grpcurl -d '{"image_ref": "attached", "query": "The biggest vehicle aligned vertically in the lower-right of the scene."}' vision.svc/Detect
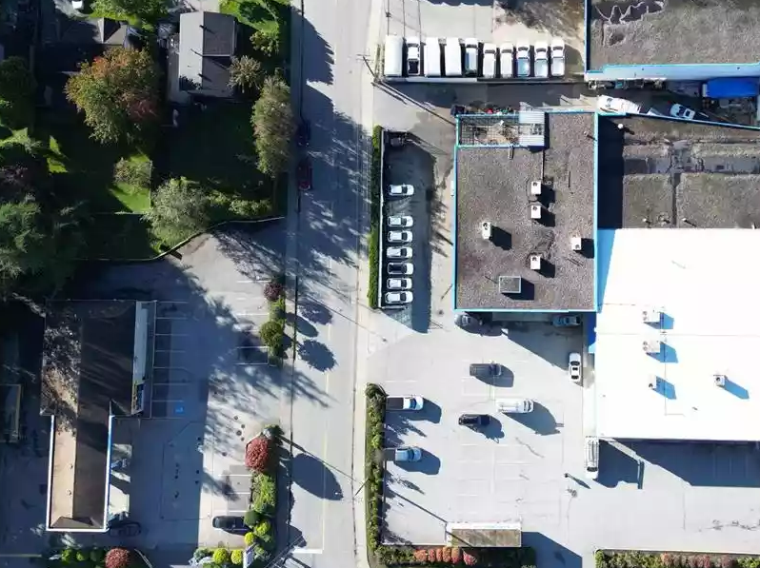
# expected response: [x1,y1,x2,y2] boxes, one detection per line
[585,435,600,476]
